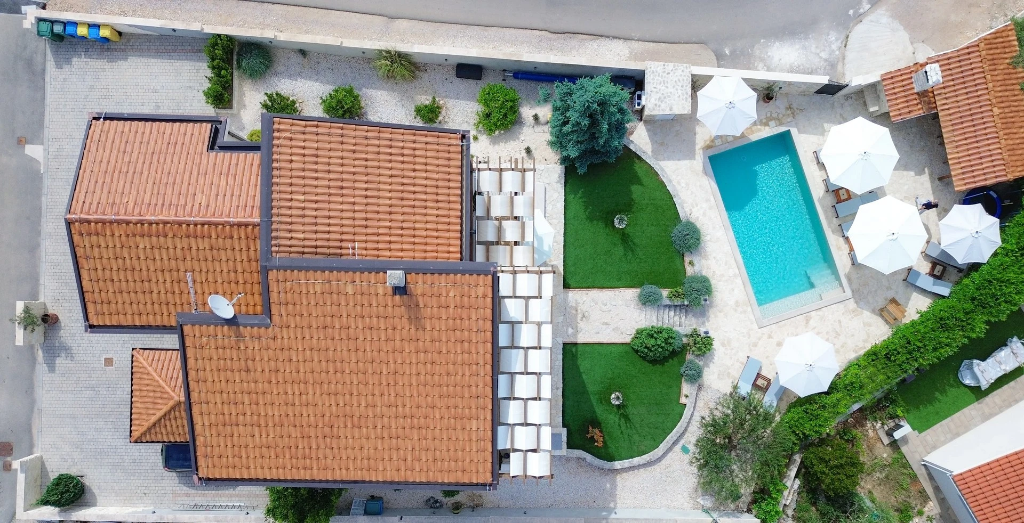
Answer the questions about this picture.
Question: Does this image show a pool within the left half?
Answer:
No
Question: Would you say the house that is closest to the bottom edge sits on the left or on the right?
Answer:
right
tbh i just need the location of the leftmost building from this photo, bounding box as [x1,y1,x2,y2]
[63,110,502,492]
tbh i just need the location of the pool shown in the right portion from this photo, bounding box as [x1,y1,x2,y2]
[698,120,856,331]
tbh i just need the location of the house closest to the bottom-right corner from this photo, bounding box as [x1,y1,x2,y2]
[922,404,1024,523]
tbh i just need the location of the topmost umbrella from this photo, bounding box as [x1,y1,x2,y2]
[697,75,758,136]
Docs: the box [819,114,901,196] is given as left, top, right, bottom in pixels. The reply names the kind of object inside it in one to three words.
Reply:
umbrella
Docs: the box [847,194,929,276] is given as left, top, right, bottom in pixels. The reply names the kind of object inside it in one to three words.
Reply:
umbrella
